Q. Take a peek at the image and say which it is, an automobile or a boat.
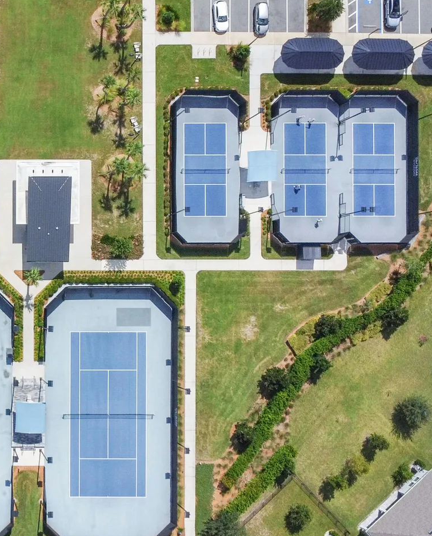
automobile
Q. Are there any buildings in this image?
Yes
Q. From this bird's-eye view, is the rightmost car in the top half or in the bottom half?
top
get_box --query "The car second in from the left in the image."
[252,3,269,37]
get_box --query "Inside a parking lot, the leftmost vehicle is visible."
[212,2,229,34]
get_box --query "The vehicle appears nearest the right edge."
[378,0,402,29]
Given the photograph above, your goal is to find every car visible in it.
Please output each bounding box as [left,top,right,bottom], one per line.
[378,0,402,29]
[252,3,269,37]
[212,2,229,34]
